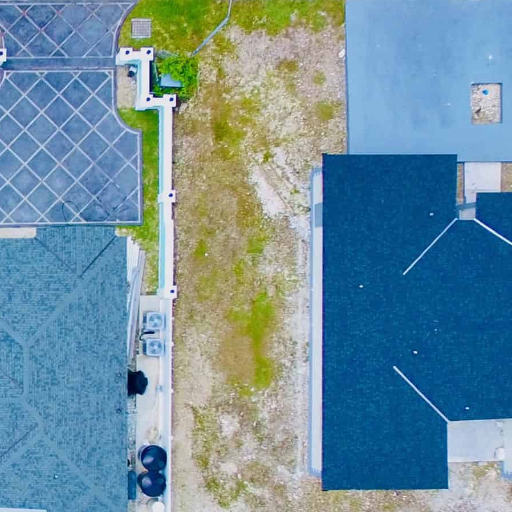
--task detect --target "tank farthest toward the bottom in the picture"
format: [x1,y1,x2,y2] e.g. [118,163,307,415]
[136,469,165,497]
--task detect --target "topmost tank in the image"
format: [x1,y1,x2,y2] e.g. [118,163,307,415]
[135,442,166,471]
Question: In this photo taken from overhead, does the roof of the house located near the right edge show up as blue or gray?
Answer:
blue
